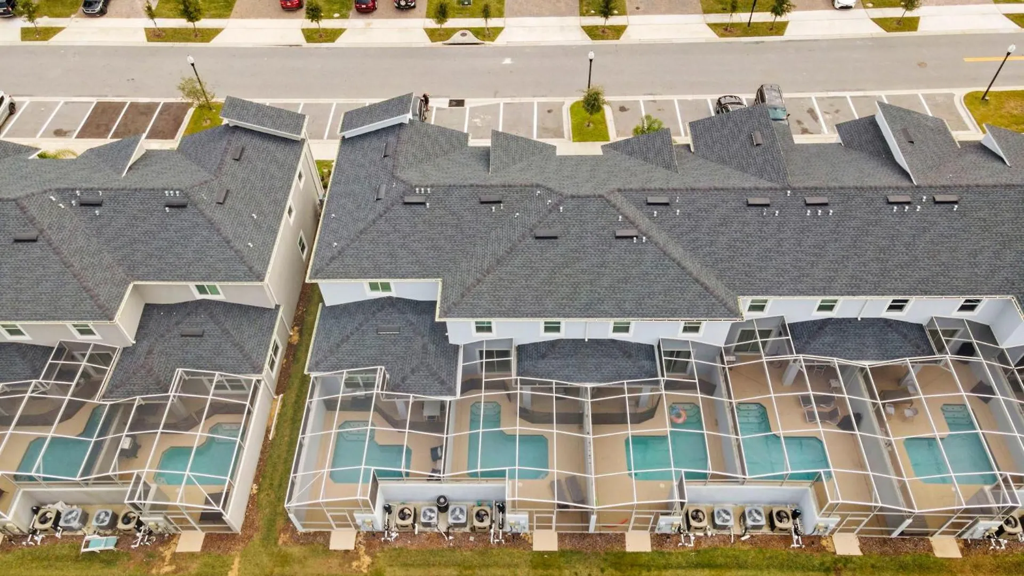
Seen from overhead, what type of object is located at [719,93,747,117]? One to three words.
car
